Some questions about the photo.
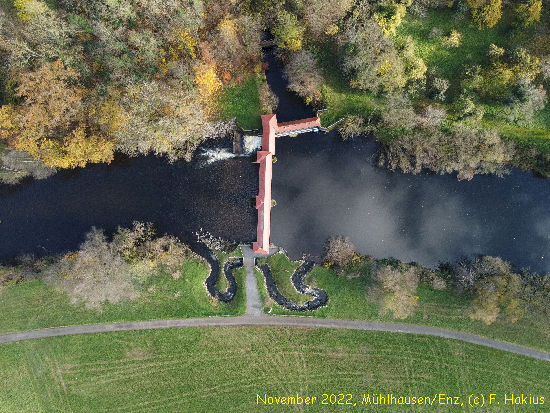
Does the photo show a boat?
No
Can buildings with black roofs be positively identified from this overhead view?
No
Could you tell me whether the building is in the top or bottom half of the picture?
top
